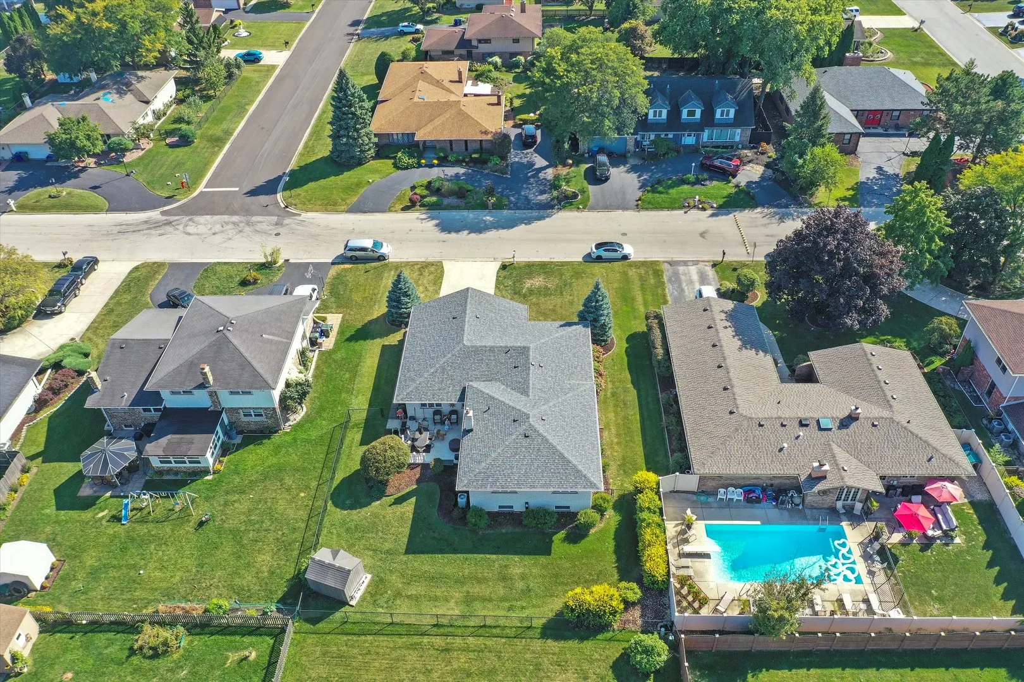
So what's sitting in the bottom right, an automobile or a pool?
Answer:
pool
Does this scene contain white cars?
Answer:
Yes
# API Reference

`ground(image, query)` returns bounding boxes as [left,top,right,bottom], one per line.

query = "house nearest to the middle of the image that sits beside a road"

[391,290,605,517]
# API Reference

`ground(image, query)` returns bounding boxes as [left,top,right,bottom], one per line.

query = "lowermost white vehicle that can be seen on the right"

[694,286,718,299]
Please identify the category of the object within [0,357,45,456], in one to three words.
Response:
house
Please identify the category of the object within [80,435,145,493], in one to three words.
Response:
gazebo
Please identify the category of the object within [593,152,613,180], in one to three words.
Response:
car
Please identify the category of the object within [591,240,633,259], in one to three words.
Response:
car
